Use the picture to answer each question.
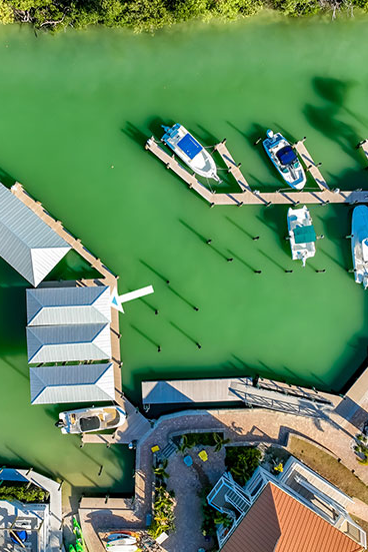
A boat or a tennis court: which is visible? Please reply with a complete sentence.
This aerial view contains a boat.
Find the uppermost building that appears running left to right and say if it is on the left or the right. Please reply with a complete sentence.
The uppermost building that appears running left to right appears in the left half of the scene.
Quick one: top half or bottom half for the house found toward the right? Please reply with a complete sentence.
The bottom half of the photo is where the house found toward the right is.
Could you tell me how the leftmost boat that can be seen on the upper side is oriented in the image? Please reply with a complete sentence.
I'd say the leftmost boat that can be seen on the upper side is aligned on a diagonal in the picture.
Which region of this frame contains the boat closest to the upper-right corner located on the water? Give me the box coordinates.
[262,128,304,190]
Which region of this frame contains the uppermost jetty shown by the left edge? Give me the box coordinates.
[10,181,125,400]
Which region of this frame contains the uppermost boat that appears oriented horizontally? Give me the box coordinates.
[52,403,126,434]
